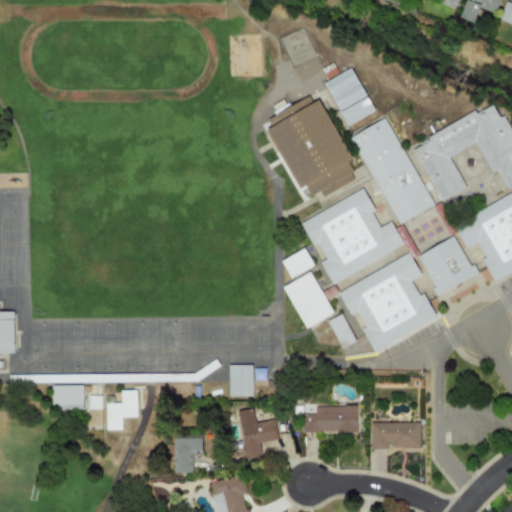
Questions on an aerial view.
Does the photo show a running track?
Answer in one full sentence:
Yes, there's a running track here.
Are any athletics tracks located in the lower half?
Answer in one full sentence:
No, in the lower half there is no athletics track.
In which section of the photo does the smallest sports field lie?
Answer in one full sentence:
The smallest sports field is located in the top left region of the scene.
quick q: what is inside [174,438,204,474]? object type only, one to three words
house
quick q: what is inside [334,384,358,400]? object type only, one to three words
swimming pool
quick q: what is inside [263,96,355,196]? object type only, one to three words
building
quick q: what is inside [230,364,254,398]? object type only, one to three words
shed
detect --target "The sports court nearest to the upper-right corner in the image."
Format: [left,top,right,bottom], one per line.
[282,29,324,81]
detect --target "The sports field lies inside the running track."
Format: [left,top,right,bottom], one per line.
[36,24,205,87]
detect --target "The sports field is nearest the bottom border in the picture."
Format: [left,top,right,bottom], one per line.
[30,108,272,316]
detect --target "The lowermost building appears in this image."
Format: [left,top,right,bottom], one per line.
[212,479,248,512]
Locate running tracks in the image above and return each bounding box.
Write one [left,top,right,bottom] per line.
[2,1,228,106]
